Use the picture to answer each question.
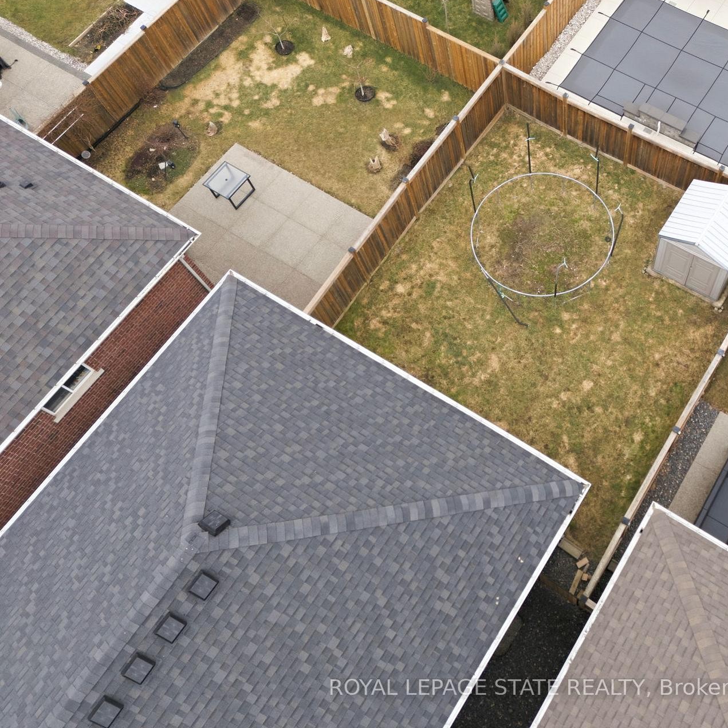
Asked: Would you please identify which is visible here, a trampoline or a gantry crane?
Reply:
trampoline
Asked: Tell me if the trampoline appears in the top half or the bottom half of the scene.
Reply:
top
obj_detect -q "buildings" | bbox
[654,178,728,301]
[529,501,728,728]
[0,271,588,728]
